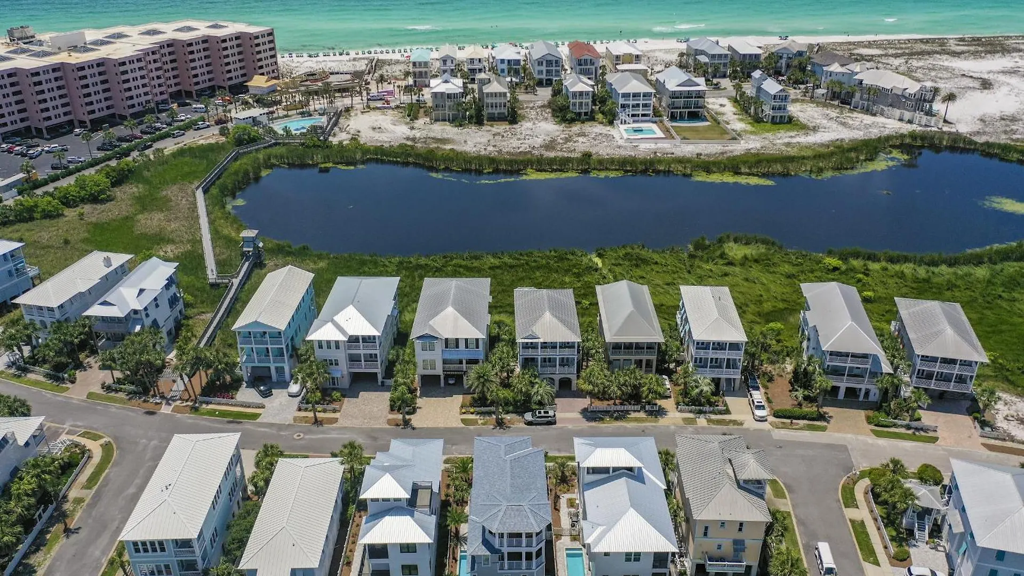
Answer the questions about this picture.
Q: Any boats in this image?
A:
No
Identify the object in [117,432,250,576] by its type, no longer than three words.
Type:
house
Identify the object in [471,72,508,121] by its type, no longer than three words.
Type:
house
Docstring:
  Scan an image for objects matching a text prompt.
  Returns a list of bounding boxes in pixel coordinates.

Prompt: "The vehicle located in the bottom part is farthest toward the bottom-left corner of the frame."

[251,376,272,398]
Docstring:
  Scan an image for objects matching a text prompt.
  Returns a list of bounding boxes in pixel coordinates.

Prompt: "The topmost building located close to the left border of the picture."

[0,18,286,139]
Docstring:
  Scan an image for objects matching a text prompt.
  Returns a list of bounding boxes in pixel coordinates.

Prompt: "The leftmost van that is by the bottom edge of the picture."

[812,531,841,576]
